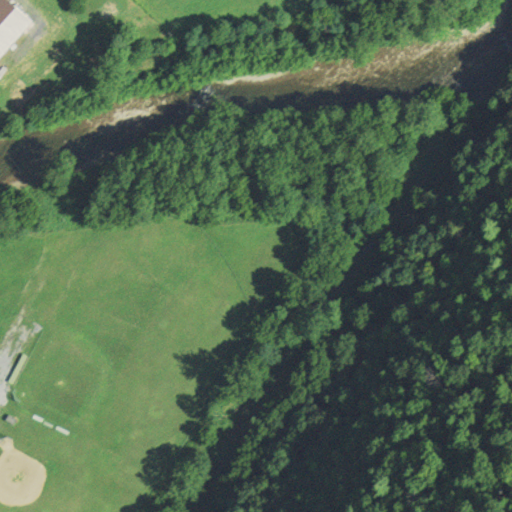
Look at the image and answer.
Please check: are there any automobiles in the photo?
No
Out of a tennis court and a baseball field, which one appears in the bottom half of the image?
baseball field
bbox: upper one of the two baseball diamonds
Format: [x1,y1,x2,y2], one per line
[19,318,114,422]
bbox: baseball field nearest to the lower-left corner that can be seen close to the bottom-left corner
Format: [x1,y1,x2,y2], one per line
[0,436,48,508]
